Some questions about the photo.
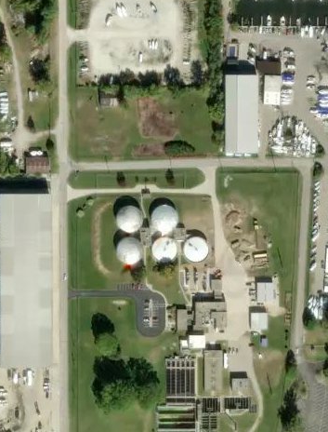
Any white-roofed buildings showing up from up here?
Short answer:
Yes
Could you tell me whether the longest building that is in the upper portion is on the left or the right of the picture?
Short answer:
right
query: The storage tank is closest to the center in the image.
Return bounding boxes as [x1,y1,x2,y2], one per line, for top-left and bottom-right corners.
[150,204,179,232]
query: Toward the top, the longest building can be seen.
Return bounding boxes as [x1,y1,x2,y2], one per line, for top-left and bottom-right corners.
[226,74,259,155]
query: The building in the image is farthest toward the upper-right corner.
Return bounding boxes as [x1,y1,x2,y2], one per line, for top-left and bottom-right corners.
[257,59,280,74]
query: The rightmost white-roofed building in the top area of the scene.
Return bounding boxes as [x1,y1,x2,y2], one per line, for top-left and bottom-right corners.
[265,75,280,104]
